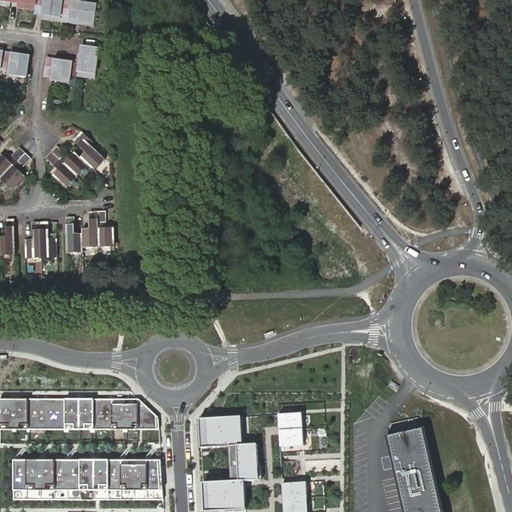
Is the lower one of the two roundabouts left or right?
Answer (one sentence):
You can find the lower one of the two roundabouts on the left side of the picture.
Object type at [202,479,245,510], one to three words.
building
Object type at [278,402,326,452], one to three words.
building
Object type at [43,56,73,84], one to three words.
house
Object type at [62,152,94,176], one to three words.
house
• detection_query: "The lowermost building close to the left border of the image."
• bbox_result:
[12,458,162,500]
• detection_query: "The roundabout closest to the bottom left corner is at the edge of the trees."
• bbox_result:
[139,332,210,403]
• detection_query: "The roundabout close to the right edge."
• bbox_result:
[384,248,512,404]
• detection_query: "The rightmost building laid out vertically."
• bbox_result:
[386,426,441,512]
